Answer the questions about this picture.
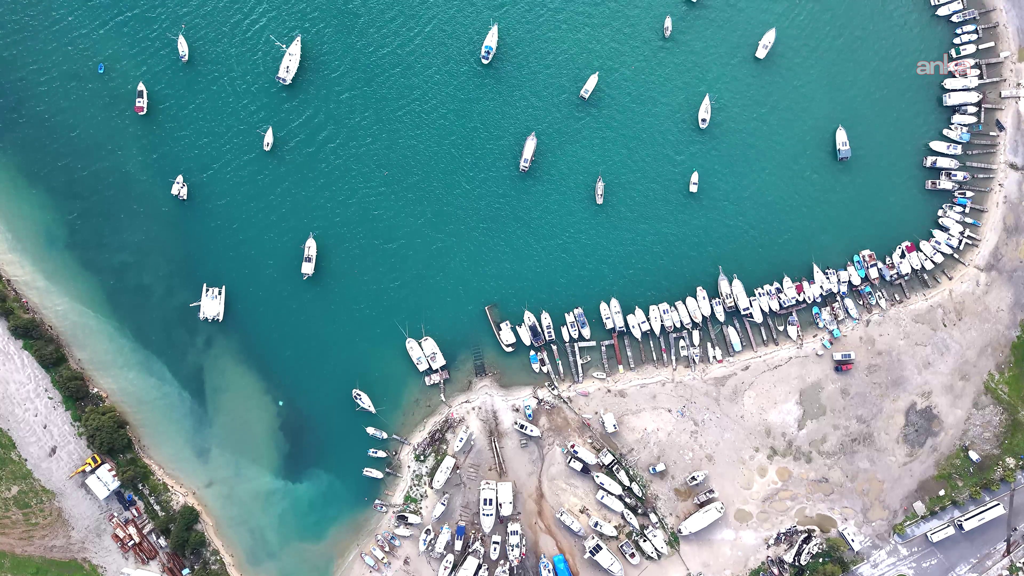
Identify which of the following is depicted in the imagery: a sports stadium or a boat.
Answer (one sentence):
This aerial view contains a boat.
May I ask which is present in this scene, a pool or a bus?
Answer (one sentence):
Visible in the photo is a bus.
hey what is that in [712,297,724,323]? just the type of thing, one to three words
boat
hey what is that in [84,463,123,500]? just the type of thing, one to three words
shed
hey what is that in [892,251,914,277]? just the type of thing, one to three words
boat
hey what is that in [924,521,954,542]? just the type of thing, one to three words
bus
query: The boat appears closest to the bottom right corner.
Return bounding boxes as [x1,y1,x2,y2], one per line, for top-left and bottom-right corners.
[966,450,983,464]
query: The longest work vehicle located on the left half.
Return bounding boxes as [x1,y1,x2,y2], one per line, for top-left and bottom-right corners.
[68,452,106,481]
